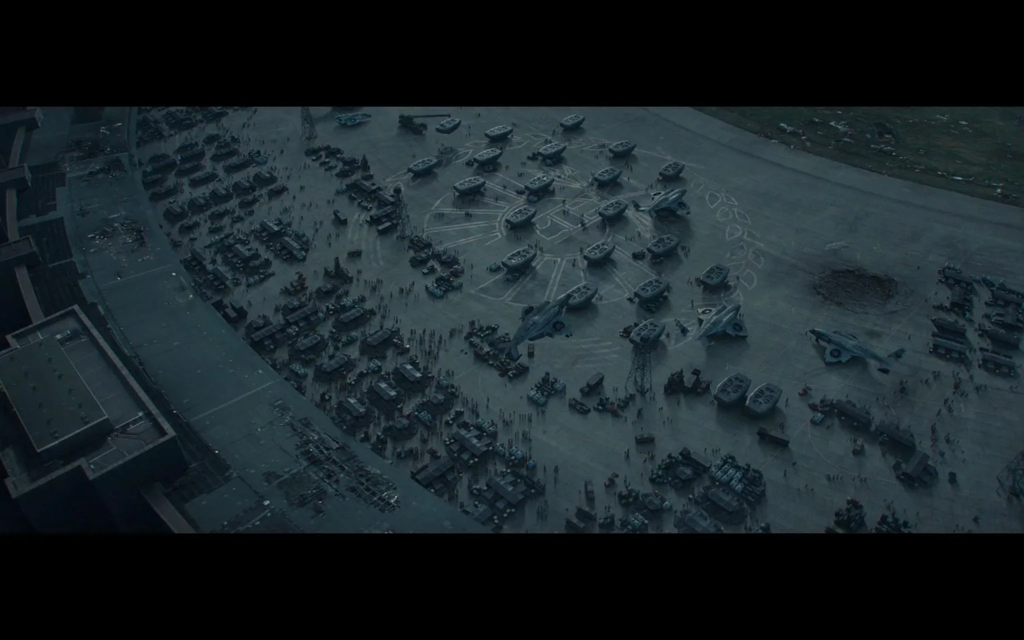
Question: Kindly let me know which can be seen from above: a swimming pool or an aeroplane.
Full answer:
Looking from above, you can make out an aeroplane.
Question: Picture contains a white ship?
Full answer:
No, there appears to be no white ship in this shot.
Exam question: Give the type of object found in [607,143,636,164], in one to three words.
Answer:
ship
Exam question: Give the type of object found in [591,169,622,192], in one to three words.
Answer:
ship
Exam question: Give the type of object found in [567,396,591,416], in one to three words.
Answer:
vehicle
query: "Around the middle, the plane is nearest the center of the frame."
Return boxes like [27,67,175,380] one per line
[496,310,579,374]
